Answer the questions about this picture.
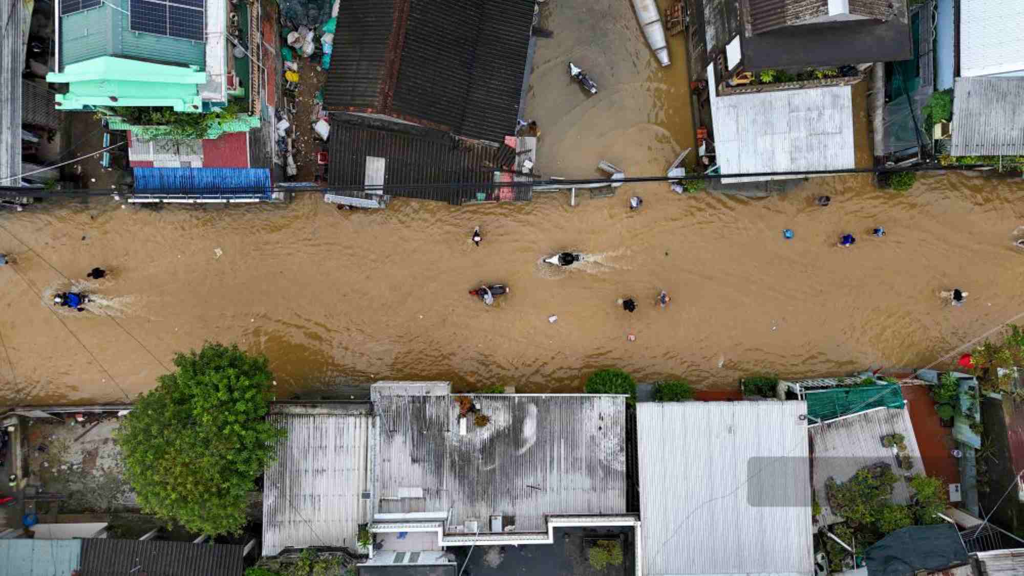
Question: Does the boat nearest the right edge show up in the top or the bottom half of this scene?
top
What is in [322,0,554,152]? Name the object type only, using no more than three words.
house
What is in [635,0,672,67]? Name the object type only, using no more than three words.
boat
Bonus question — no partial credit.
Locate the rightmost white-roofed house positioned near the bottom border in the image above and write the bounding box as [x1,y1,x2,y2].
[629,400,814,576]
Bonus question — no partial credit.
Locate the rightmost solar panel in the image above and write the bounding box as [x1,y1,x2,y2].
[129,0,205,43]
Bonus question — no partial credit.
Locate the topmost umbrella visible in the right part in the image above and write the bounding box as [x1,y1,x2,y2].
[951,356,972,369]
